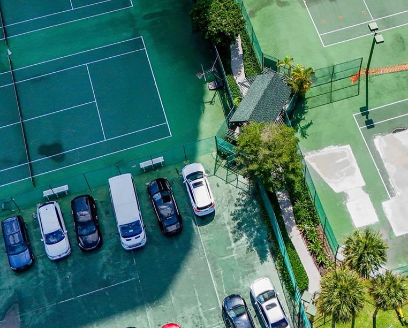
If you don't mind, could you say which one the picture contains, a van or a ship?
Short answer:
van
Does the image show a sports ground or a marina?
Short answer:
sports ground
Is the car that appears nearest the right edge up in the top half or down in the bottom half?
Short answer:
bottom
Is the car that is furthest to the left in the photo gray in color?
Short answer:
No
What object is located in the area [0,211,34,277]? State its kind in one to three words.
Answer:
car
